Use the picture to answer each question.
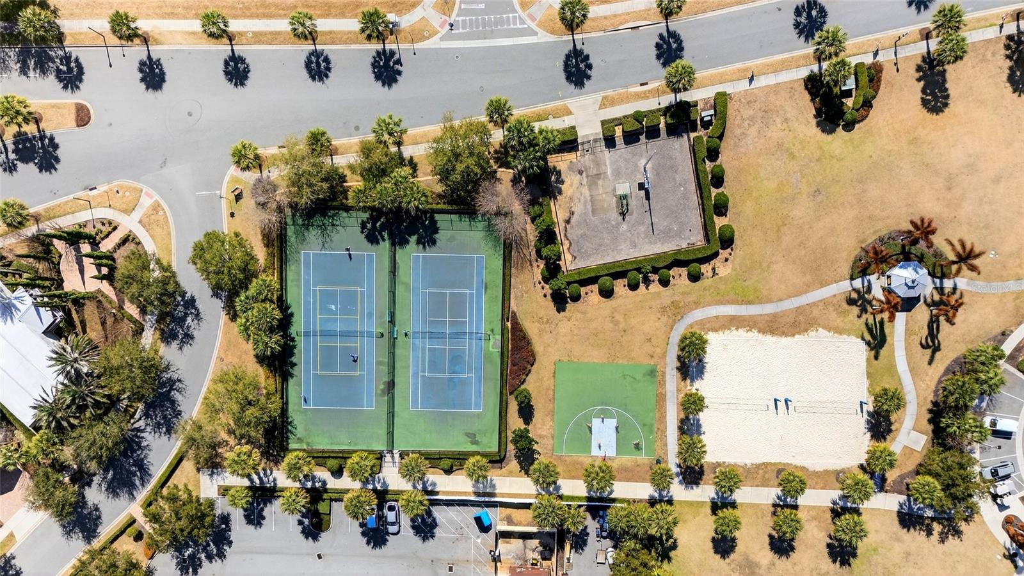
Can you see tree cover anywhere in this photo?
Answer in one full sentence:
Yes, the picture does contain tree cover.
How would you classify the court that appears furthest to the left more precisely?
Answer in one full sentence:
Specifically, the court that appears furthest to the left is a tennis court.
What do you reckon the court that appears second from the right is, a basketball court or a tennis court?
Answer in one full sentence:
Looking closely, the court that appears second from the right is a basketball court.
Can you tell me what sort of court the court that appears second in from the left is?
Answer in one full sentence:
Looking closely, the court that appears second in from the left is a tennis court.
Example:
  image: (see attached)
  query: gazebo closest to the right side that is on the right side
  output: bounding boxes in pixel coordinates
[881,261,927,299]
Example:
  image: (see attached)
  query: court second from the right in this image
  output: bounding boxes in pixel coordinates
[554,362,657,458]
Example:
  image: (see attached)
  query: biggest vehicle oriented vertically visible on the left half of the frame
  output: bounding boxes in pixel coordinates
[383,501,399,535]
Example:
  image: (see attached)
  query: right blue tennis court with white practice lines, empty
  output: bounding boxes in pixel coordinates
[393,212,504,452]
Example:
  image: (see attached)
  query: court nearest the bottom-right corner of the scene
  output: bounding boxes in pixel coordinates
[693,326,869,471]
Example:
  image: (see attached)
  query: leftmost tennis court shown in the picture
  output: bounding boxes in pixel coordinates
[285,209,389,450]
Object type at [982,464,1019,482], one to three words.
car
